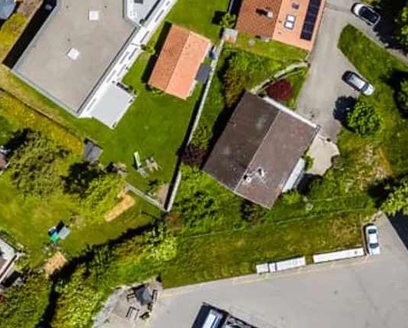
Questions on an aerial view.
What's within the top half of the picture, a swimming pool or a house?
house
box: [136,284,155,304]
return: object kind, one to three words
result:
umbrella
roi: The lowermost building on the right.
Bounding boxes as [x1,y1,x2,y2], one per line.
[202,90,321,209]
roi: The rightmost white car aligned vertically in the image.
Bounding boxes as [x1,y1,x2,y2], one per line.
[364,221,381,257]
